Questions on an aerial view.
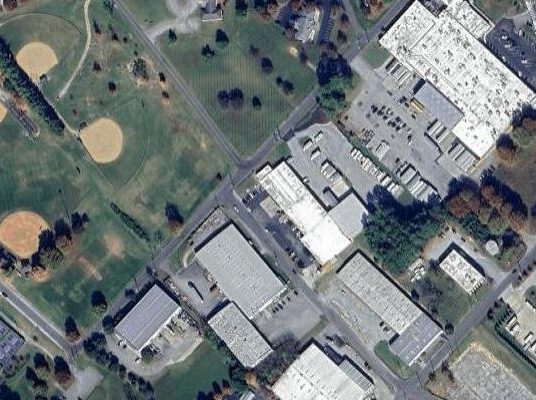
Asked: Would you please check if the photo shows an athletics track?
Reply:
No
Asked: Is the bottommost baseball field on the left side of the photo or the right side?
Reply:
left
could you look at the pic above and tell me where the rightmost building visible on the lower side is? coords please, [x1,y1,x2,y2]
[439,250,486,296]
